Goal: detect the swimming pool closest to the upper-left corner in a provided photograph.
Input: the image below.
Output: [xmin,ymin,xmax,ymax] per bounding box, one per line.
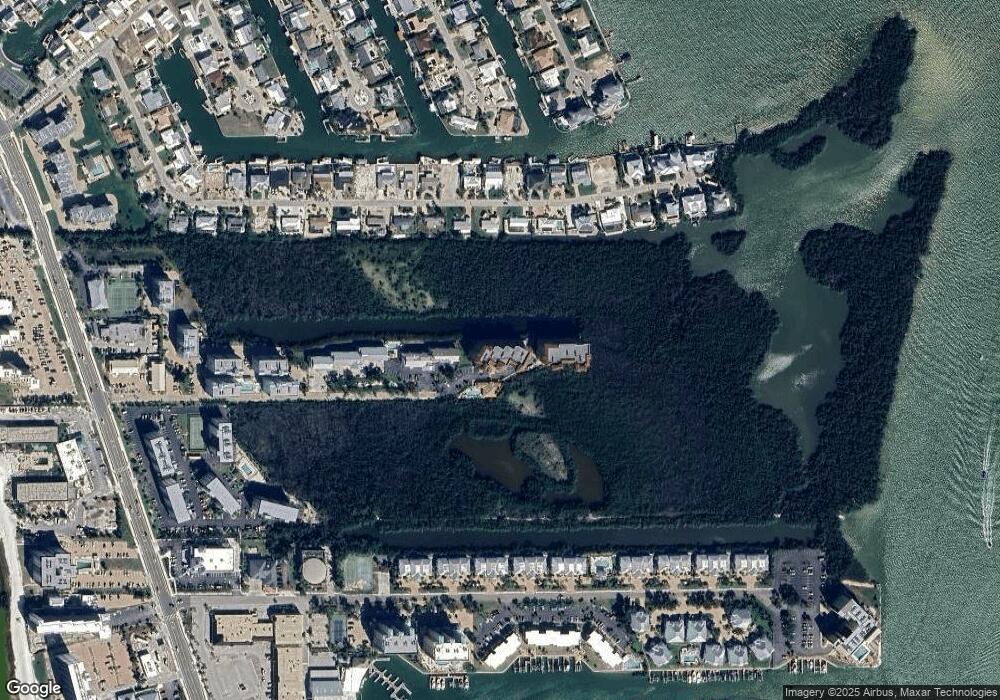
[83,154,111,183]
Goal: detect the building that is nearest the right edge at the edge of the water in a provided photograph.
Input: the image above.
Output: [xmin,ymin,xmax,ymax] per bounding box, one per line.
[829,587,879,653]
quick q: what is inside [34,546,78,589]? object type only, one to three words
building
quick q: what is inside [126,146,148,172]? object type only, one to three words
house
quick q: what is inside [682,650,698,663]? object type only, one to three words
swimming pool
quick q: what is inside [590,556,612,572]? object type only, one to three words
swimming pool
